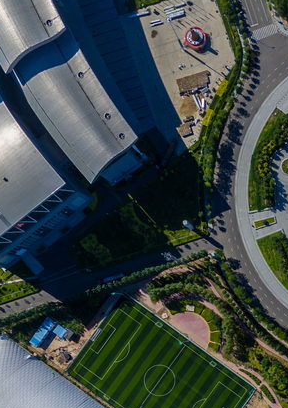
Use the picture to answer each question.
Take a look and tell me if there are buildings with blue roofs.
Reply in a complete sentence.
Yes, you can see a building with a blue roof in this photo.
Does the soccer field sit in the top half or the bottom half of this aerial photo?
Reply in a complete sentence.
The soccer field sits in the bottom half of the picture.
